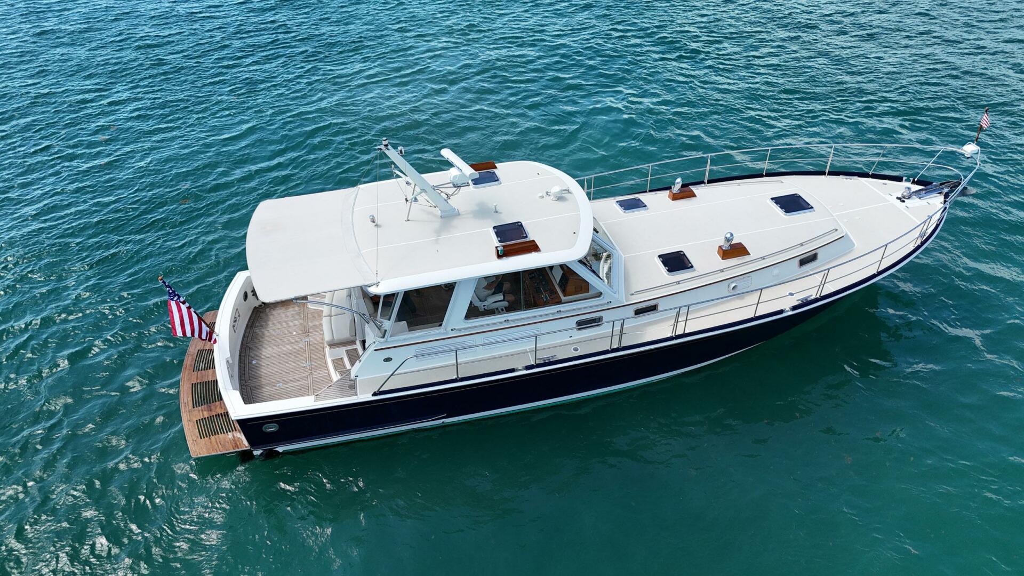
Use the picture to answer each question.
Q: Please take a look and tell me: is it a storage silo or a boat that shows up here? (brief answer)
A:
boat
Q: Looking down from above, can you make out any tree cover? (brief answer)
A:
No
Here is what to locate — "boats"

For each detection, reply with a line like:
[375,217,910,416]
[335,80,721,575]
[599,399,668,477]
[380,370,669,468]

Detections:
[175,132,990,465]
